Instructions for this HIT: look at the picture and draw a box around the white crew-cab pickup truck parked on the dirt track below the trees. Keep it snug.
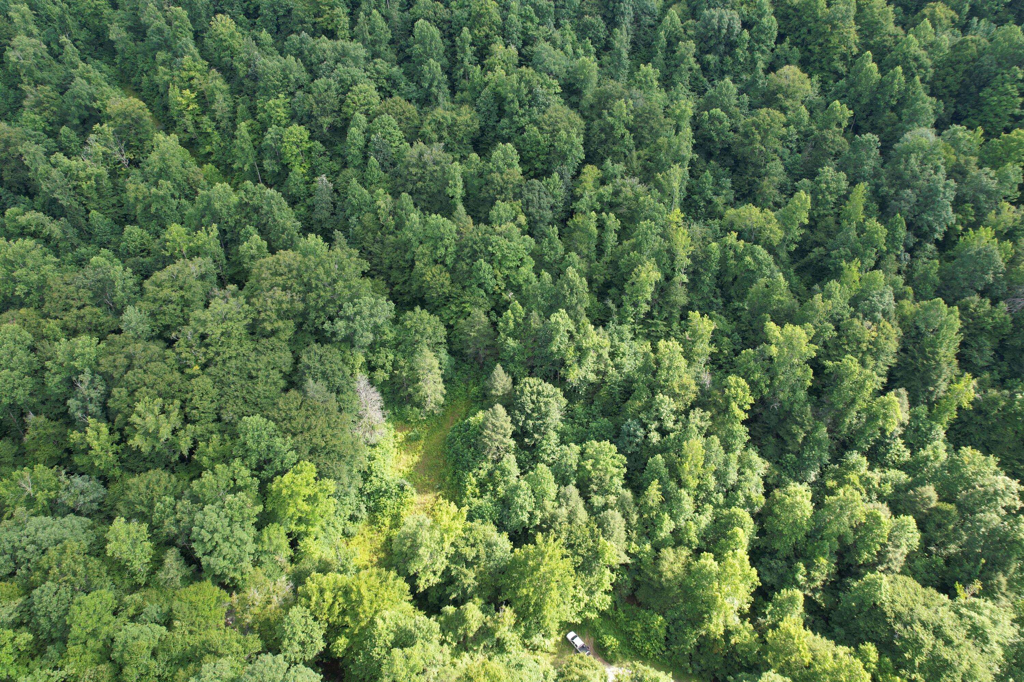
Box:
[565,630,591,659]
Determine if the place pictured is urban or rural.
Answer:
rural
